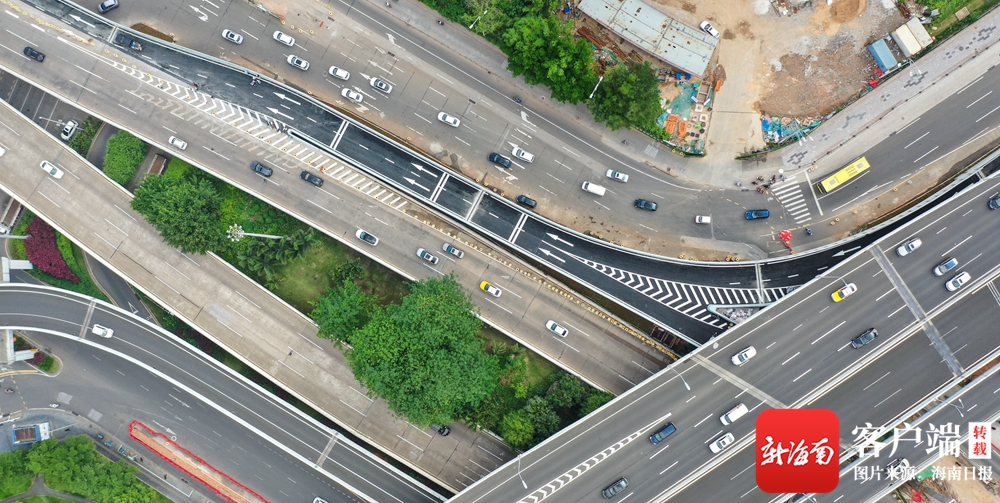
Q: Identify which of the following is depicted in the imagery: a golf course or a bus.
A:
bus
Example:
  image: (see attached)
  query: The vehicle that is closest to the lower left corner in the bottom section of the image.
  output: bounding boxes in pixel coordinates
[12,424,51,444]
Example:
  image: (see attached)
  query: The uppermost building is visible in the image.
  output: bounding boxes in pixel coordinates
[566,0,720,78]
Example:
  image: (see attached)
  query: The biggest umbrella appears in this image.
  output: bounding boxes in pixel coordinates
[777,229,791,241]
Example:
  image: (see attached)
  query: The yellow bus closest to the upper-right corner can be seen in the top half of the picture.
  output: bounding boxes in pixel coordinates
[813,158,869,194]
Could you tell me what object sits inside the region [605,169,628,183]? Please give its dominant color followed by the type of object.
white vehicle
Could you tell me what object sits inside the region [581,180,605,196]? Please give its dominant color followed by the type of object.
white vehicle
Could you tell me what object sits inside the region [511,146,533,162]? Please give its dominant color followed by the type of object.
white car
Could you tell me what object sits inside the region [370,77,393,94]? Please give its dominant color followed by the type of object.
white car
